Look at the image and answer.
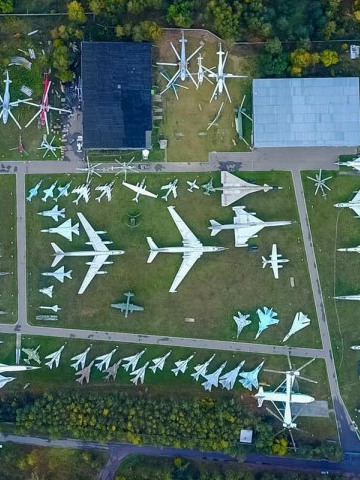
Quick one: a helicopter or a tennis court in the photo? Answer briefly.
helicopter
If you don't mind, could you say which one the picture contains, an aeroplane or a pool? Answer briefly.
aeroplane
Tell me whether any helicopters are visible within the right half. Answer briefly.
Yes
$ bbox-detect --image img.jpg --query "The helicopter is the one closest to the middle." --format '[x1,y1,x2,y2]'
[110,158,139,181]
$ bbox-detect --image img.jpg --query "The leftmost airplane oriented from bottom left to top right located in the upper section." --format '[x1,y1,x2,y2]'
[25,181,43,203]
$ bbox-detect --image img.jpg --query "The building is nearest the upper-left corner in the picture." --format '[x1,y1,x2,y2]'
[81,42,152,150]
